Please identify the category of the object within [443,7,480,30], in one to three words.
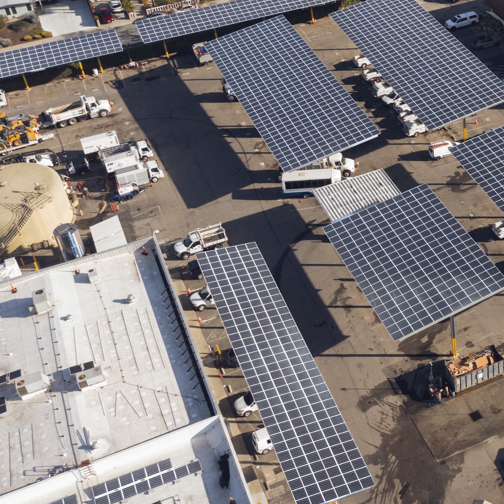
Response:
truck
